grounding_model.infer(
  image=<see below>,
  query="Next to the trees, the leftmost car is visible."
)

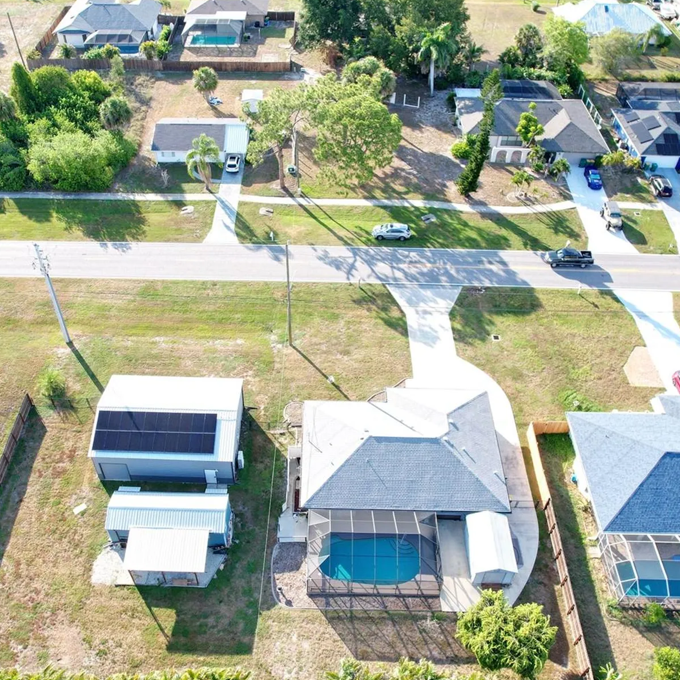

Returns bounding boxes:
[224,154,241,177]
